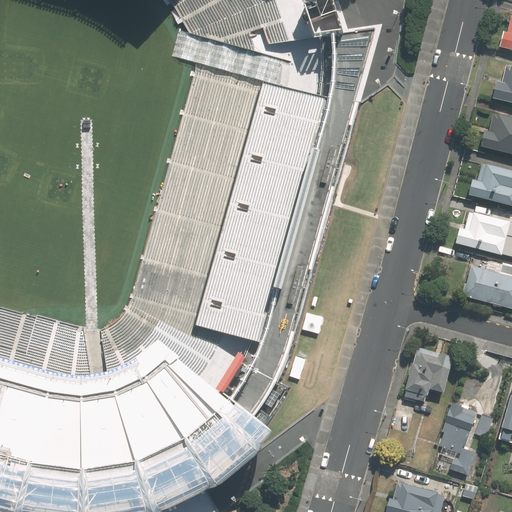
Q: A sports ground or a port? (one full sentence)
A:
This looks like a sports ground.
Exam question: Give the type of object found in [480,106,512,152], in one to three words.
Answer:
house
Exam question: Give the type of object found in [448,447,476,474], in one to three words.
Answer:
house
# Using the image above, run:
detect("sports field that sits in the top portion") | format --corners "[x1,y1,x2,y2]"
[0,0,195,332]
